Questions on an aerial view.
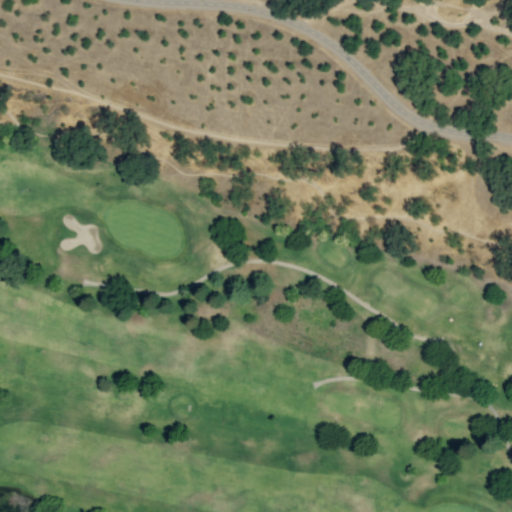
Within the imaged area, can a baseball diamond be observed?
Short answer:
No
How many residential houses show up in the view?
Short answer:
0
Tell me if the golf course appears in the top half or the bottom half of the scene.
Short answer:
bottom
